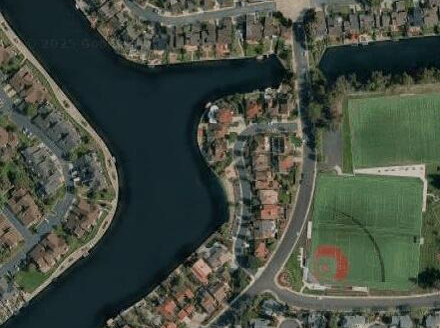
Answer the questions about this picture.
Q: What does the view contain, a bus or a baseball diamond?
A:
baseball diamond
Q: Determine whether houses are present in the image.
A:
Yes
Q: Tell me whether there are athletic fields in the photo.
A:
Yes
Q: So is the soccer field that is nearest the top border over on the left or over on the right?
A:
right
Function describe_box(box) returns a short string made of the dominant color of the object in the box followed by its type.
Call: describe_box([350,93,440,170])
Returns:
green soccer field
